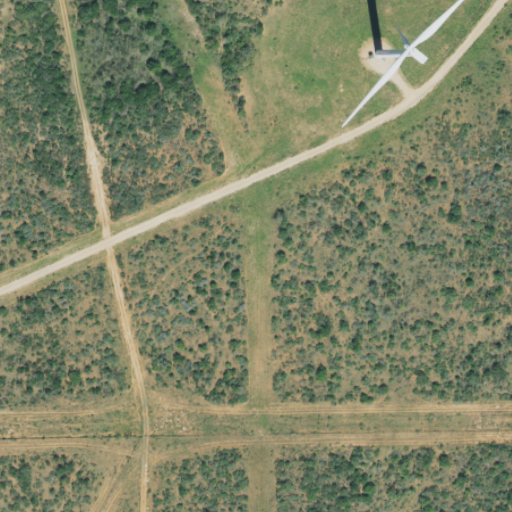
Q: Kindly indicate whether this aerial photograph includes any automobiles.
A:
No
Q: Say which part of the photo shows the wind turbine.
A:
top right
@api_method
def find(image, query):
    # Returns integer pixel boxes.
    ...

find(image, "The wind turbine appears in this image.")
[343,0,464,126]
